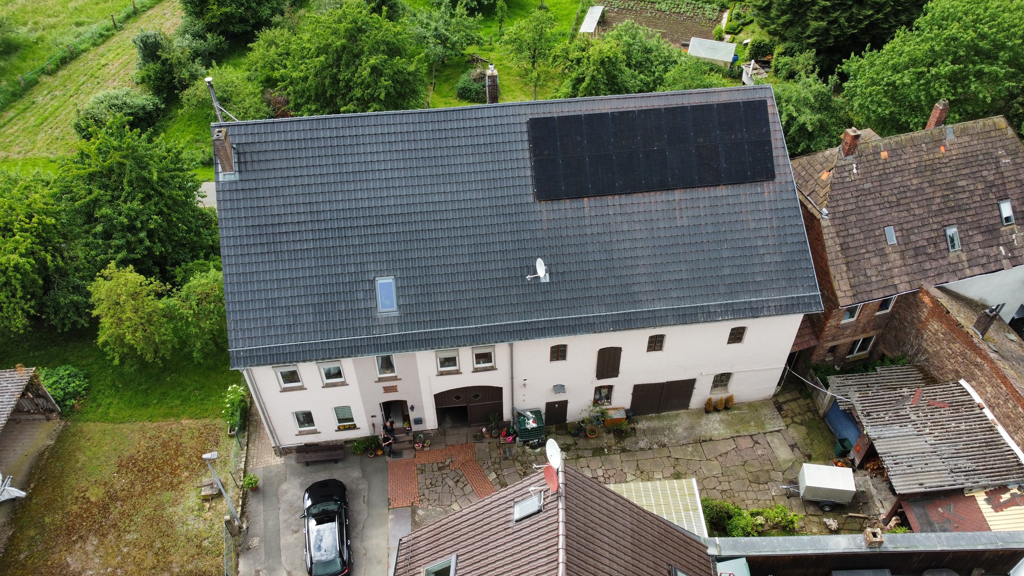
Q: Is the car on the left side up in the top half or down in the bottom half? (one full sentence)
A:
It is in the bottom half that the car on the left side appears.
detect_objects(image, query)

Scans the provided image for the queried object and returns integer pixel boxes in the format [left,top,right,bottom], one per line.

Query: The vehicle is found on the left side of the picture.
[297,480,359,576]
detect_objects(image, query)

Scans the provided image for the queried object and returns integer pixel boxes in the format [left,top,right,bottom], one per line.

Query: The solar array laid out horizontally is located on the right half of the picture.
[527,100,776,200]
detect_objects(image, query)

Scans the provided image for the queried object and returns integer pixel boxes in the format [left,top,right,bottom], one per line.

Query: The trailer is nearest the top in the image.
[771,465,856,517]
